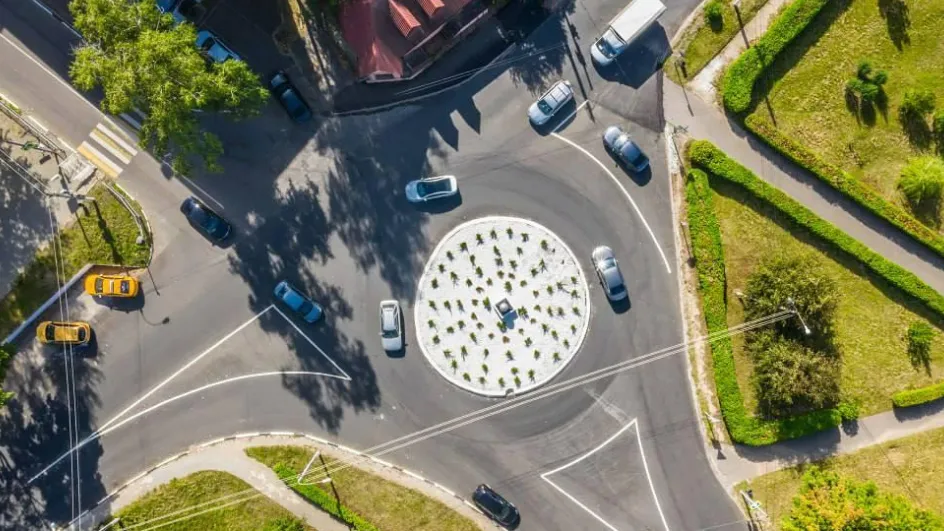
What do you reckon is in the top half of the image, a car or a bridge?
car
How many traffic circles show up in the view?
1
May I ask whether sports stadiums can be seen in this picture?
No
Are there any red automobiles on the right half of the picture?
No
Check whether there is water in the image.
No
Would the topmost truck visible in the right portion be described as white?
Yes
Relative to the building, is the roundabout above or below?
below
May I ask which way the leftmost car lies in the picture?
horizontally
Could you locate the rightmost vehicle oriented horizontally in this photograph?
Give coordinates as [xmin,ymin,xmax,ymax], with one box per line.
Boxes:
[405,174,459,202]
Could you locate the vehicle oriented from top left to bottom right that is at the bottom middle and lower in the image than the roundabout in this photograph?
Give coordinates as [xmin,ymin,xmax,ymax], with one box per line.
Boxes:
[471,482,521,531]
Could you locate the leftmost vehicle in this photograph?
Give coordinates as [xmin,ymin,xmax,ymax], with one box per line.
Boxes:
[38,320,92,346]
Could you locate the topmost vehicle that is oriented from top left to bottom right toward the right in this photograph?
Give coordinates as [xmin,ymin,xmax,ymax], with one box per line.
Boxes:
[603,124,650,173]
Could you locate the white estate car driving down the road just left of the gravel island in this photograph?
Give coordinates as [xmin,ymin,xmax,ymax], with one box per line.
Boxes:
[379,301,403,350]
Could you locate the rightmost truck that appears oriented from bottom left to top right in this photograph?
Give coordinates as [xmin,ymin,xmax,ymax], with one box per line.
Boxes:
[594,0,673,63]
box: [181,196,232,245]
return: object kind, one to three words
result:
car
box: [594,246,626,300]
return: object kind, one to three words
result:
car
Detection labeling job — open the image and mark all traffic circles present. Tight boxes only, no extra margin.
[381,181,624,432]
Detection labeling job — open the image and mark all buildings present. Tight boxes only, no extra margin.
[348,0,498,92]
